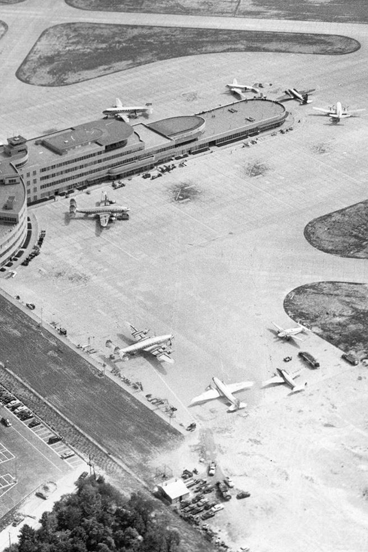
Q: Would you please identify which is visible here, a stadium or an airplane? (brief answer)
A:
airplane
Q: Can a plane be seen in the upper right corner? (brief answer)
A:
Yes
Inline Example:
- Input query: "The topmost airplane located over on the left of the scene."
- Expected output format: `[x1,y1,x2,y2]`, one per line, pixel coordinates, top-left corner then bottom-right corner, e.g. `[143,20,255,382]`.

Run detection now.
[96,98,151,121]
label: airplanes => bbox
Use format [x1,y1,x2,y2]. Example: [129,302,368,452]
[96,98,151,121]
[274,322,309,344]
[270,86,317,104]
[223,78,262,95]
[72,190,133,225]
[310,99,363,115]
[257,367,310,394]
[186,375,257,410]
[114,319,185,363]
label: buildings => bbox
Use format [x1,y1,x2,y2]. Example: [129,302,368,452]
[157,478,191,506]
[0,99,287,274]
